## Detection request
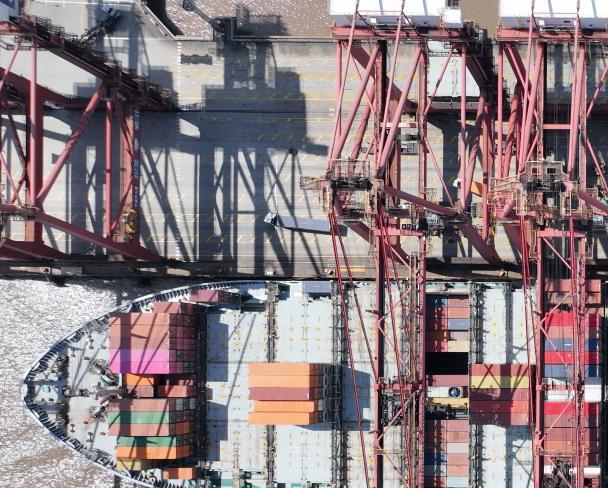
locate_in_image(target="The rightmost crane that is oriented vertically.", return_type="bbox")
[478,0,608,488]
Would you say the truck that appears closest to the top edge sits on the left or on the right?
left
